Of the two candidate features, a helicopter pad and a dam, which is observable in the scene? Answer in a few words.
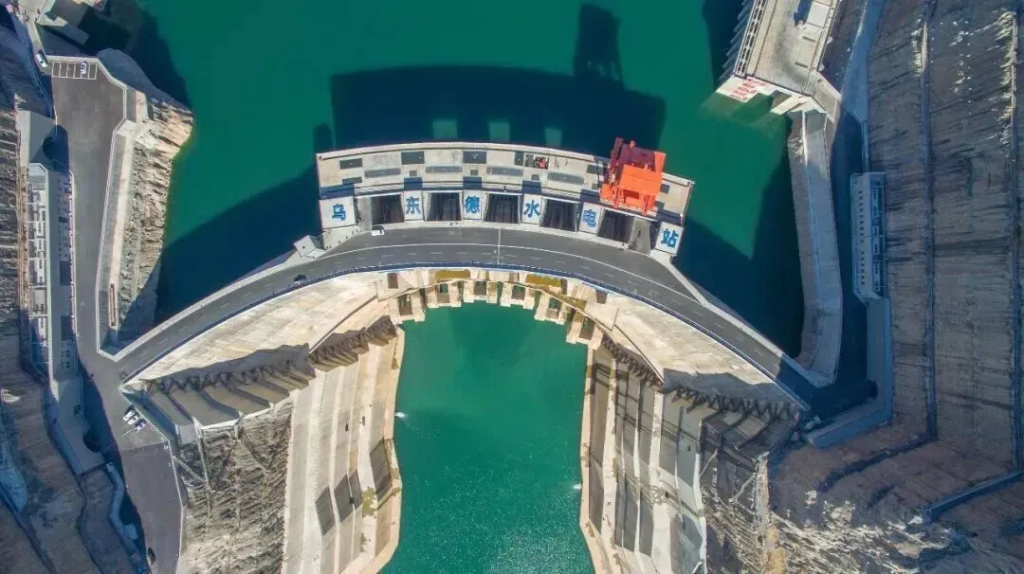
dam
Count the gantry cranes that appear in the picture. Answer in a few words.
1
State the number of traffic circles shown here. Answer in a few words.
0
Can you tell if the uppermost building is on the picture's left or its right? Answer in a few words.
left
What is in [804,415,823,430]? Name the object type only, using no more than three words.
vehicle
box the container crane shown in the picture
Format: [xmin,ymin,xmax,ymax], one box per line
[599,139,668,217]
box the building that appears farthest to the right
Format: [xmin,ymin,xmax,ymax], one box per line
[850,167,890,291]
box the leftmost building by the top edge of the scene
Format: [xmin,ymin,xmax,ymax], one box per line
[54,0,147,46]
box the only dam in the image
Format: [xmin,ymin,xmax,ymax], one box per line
[111,142,815,410]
